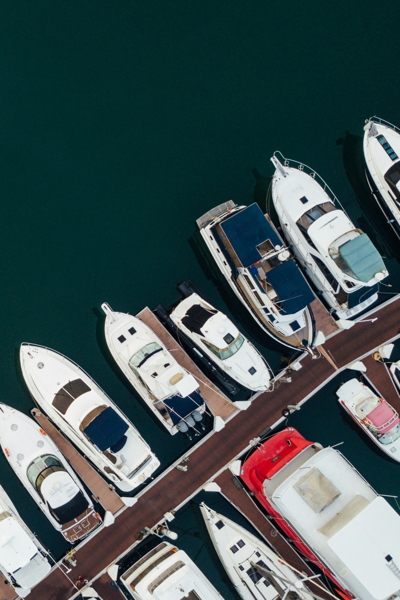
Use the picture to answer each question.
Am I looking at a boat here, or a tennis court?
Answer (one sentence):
The image shows a boat.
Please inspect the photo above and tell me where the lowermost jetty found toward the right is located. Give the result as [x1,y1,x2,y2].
[206,460,333,600]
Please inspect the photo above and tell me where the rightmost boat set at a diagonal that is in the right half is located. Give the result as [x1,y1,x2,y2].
[335,378,400,462]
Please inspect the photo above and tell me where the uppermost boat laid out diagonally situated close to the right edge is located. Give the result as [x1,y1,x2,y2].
[266,151,392,320]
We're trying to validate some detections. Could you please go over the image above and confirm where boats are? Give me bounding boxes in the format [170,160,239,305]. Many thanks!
[238,427,400,600]
[119,541,222,600]
[356,116,400,248]
[19,342,160,485]
[100,302,238,441]
[0,487,79,600]
[335,378,400,462]
[169,293,276,393]
[199,501,360,600]
[266,151,392,320]
[0,402,103,544]
[195,200,318,361]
